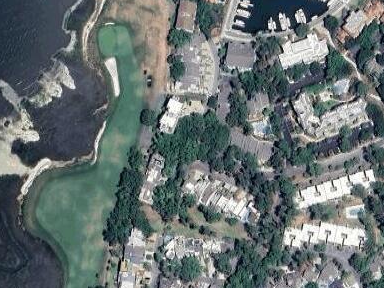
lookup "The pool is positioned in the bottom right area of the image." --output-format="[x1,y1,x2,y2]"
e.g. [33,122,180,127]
[346,204,364,219]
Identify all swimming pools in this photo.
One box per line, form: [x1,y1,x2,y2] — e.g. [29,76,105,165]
[346,204,364,219]
[252,119,271,136]
[334,80,350,94]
